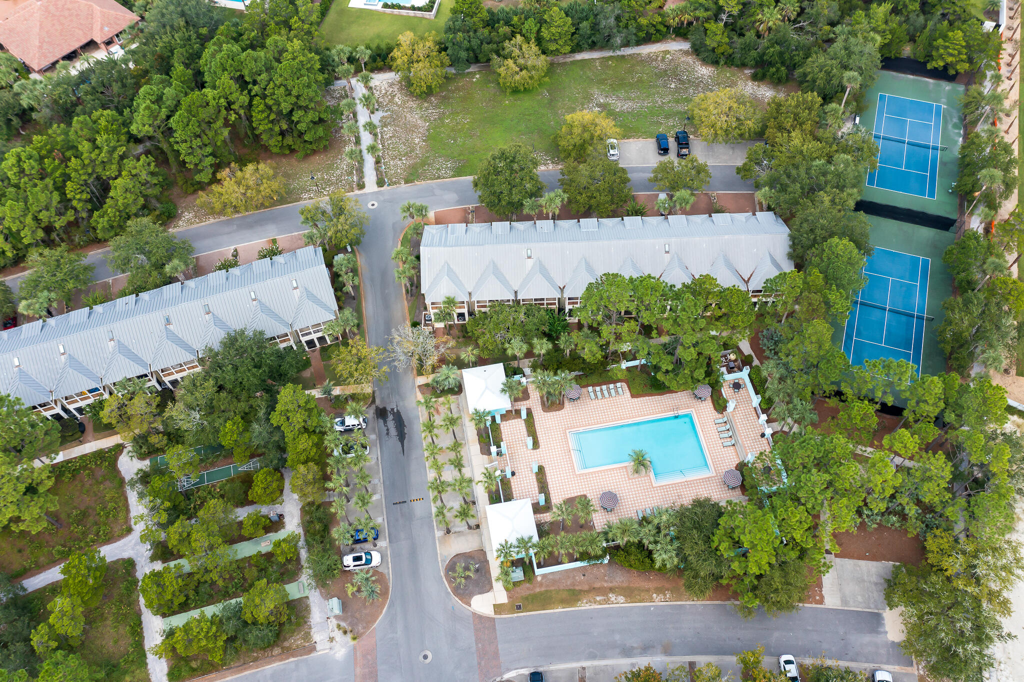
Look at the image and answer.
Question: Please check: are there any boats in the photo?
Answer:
No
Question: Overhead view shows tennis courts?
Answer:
Yes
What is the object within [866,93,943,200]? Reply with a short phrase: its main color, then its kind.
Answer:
blue tennis court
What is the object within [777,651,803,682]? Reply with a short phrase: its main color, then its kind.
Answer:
white car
